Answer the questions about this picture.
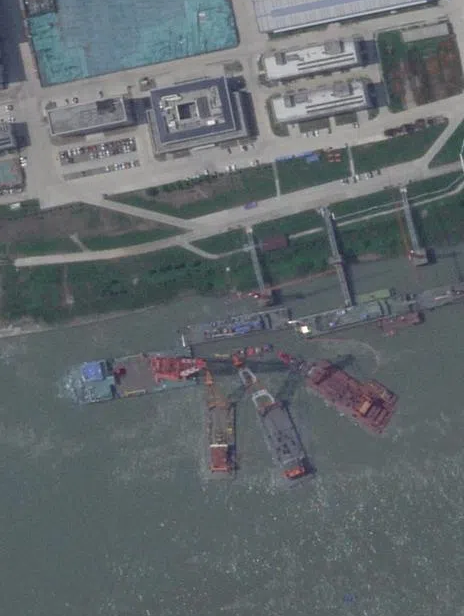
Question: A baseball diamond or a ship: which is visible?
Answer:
ship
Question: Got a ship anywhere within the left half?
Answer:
Yes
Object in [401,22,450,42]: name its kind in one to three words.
shed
